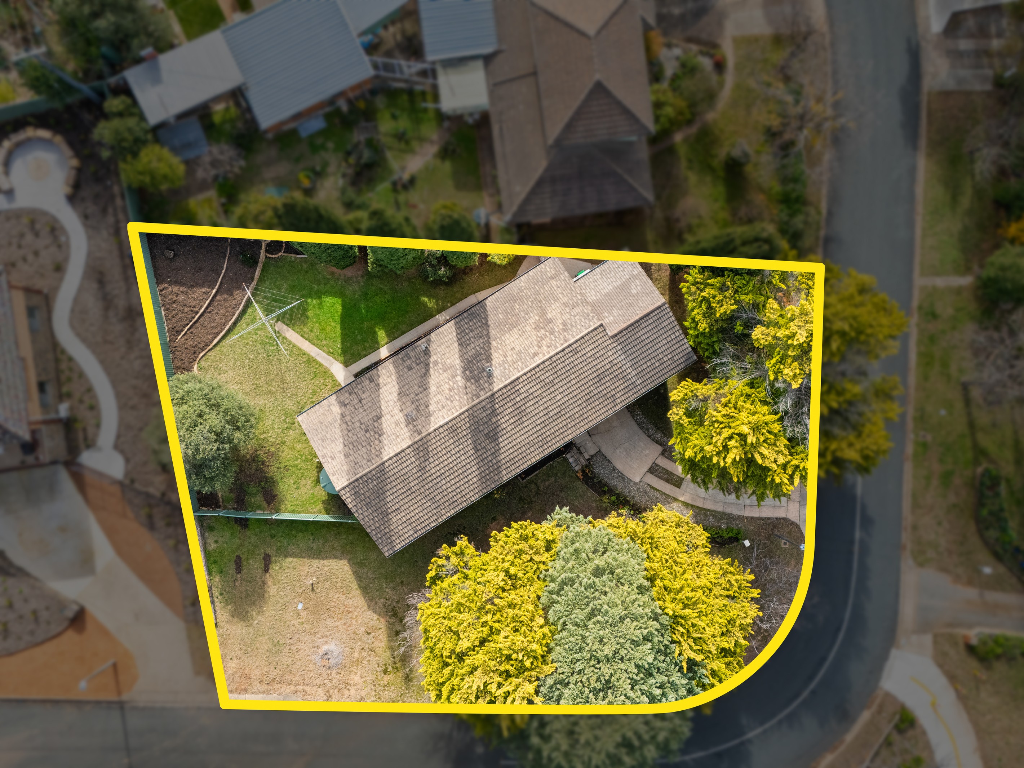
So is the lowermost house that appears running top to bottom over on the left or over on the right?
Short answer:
left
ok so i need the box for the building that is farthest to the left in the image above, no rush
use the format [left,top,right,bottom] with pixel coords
[0,271,78,466]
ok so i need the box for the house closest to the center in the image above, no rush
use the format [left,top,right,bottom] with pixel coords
[296,246,698,559]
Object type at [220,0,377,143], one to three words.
building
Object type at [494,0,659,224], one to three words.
house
